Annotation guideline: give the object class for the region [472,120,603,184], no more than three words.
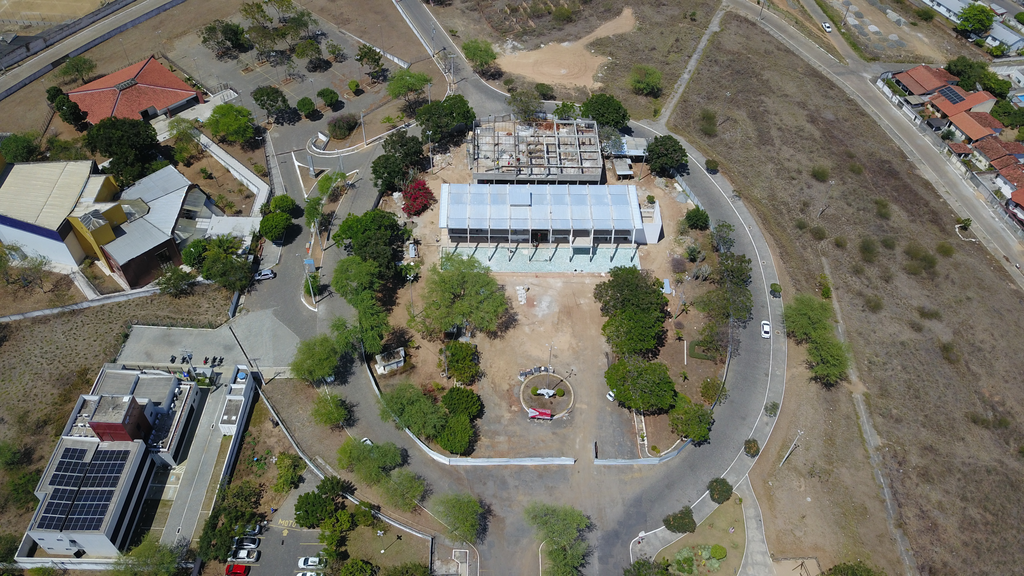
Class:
building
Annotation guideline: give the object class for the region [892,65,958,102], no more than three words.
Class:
house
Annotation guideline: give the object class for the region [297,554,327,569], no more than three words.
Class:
car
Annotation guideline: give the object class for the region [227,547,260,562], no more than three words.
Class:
car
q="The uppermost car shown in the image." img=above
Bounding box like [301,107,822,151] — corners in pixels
[821,19,834,31]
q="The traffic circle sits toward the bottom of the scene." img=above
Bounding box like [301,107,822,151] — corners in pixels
[521,373,574,419]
